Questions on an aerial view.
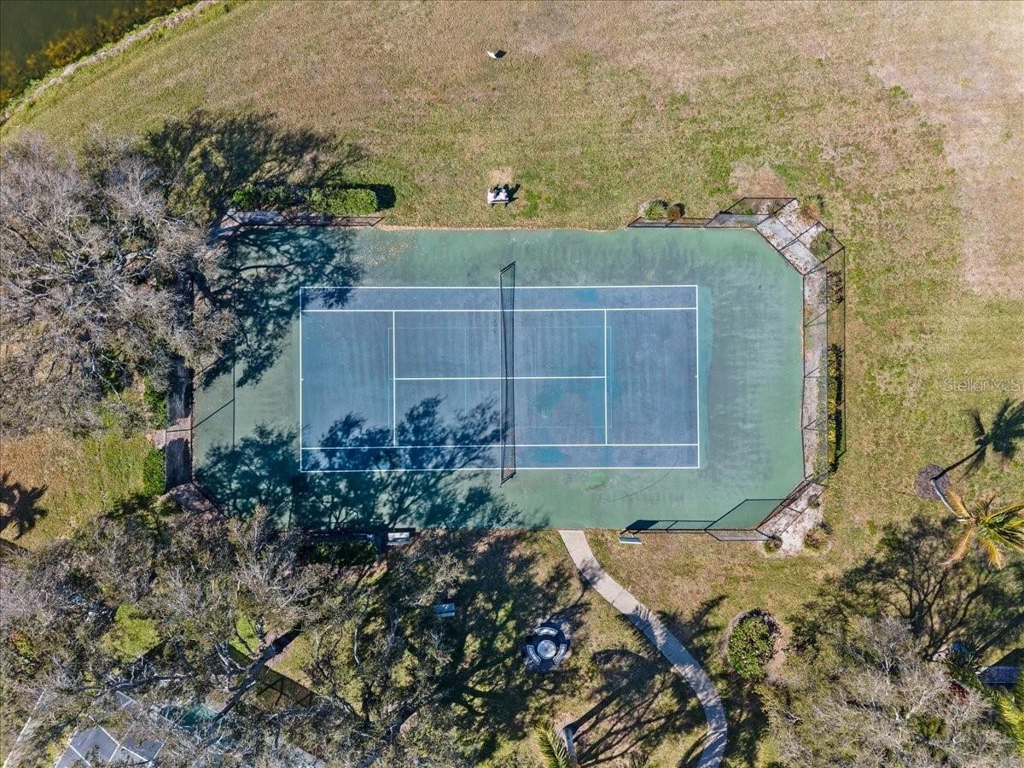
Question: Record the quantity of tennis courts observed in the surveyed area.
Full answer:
Altogether the scene contains 1 tennis court.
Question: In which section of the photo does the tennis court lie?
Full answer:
You can find the tennis court in the center area of the picture.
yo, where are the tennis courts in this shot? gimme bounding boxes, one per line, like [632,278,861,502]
[193,228,805,531]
